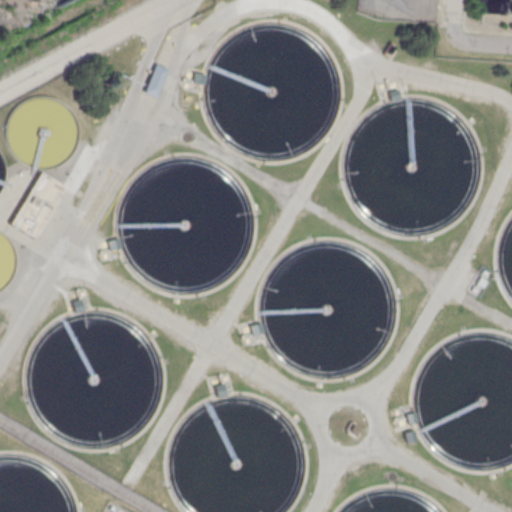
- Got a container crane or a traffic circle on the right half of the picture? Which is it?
traffic circle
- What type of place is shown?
industrial area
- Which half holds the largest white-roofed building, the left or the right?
left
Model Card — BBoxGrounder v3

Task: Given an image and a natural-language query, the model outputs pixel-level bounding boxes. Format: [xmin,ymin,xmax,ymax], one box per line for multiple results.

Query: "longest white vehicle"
[472,270,490,294]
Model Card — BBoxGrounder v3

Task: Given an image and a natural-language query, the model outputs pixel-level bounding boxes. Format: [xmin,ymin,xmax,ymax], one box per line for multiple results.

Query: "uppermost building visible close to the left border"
[11,173,66,238]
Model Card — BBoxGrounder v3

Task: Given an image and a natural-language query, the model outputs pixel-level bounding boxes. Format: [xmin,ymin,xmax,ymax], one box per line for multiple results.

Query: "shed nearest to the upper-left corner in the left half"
[146,63,168,96]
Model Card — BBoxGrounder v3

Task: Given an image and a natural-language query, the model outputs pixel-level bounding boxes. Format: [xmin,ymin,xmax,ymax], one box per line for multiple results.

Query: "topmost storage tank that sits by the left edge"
[6,96,78,172]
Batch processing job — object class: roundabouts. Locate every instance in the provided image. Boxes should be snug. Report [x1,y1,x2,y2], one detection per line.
[318,396,380,458]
